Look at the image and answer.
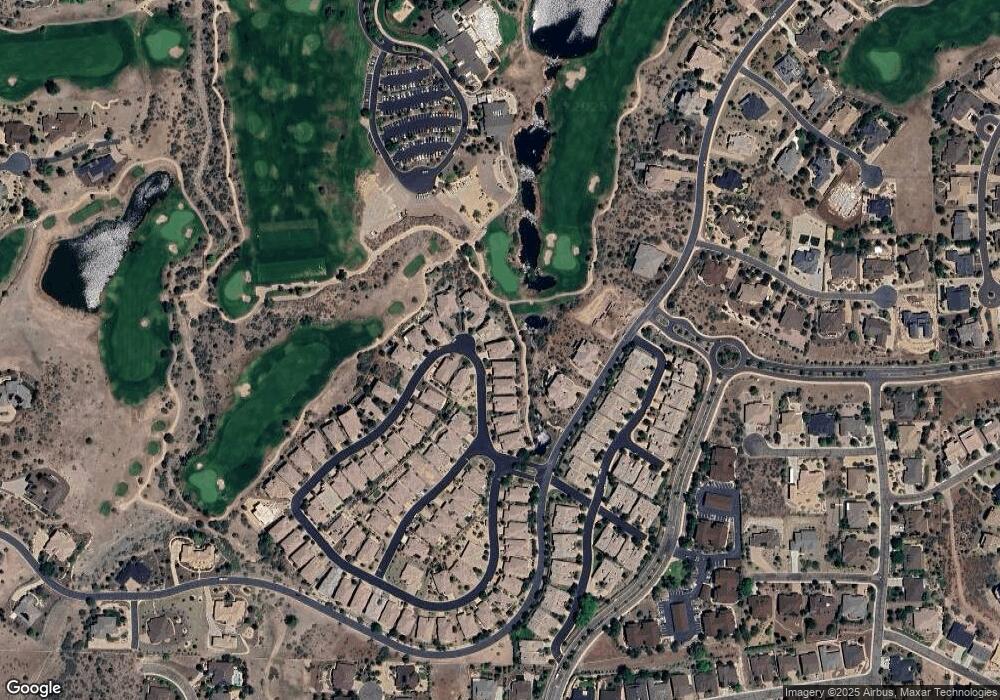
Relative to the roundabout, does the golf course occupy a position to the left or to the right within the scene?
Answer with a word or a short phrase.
left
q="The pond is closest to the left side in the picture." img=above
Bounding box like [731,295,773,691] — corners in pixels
[41,171,171,310]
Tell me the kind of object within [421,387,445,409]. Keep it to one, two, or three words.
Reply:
house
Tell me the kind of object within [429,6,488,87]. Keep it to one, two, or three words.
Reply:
building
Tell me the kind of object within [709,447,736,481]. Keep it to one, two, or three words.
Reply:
building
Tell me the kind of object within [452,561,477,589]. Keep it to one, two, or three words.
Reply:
house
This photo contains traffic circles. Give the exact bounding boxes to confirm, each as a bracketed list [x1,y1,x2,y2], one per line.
[708,338,749,377]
